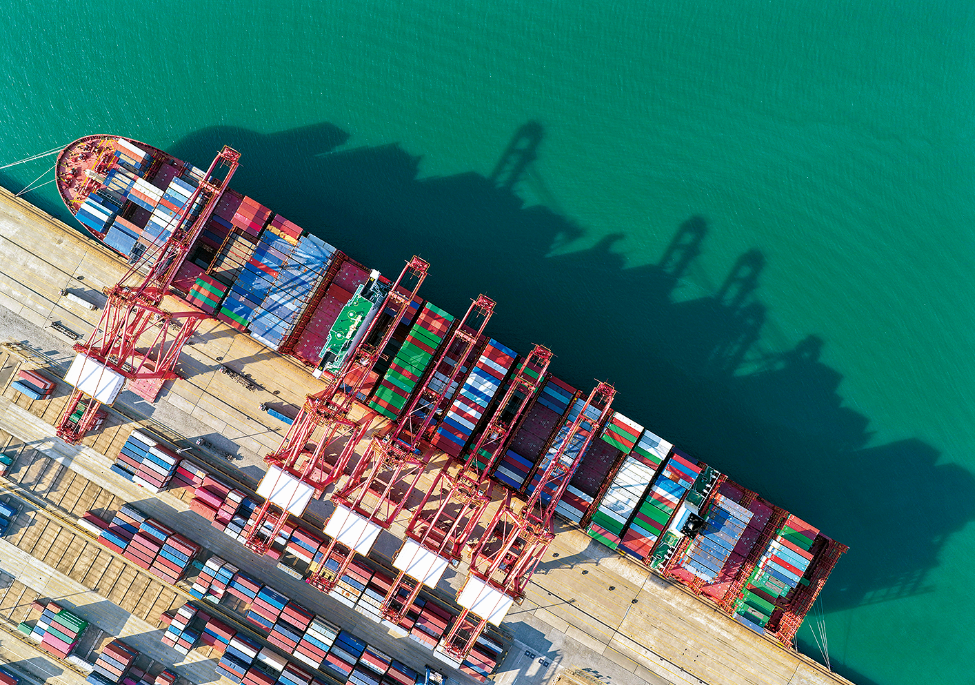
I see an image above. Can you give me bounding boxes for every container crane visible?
[376,341,554,622]
[52,140,241,437]
[439,379,617,659]
[243,252,432,552]
[308,288,498,590]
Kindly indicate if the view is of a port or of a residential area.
port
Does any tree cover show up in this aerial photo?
No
